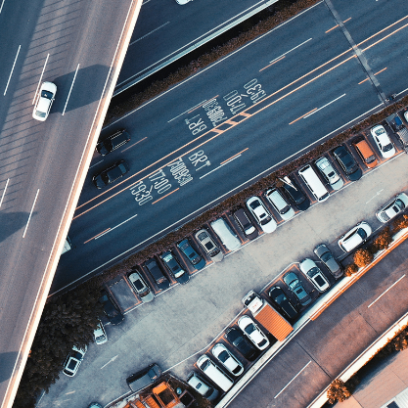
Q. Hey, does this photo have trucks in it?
Yes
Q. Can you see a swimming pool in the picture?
No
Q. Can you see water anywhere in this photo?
No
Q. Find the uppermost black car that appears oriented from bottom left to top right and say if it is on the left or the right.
left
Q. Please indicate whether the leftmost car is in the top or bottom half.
top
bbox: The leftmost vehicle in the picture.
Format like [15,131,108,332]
[32,82,57,124]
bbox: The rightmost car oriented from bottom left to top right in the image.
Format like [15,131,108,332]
[375,193,408,224]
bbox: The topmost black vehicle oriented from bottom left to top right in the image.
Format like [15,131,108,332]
[96,127,133,157]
